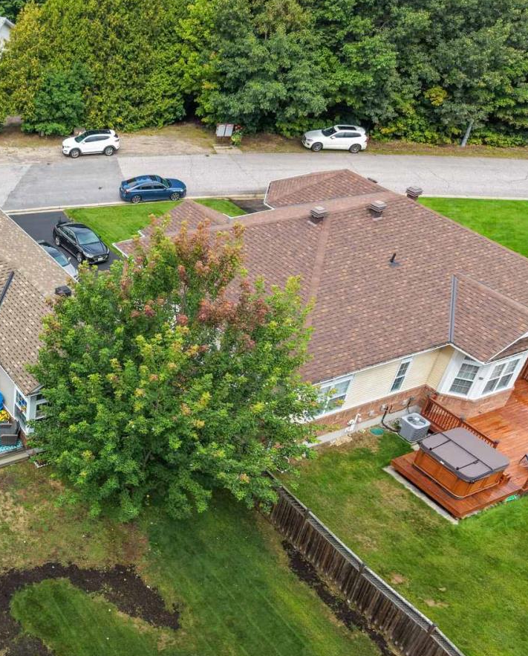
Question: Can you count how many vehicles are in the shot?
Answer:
5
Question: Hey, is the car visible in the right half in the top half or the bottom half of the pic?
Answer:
top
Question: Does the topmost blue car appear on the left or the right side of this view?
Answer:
left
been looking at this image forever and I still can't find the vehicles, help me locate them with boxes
[116,172,188,200]
[59,129,121,158]
[48,216,113,260]
[303,125,370,153]
[28,232,80,276]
